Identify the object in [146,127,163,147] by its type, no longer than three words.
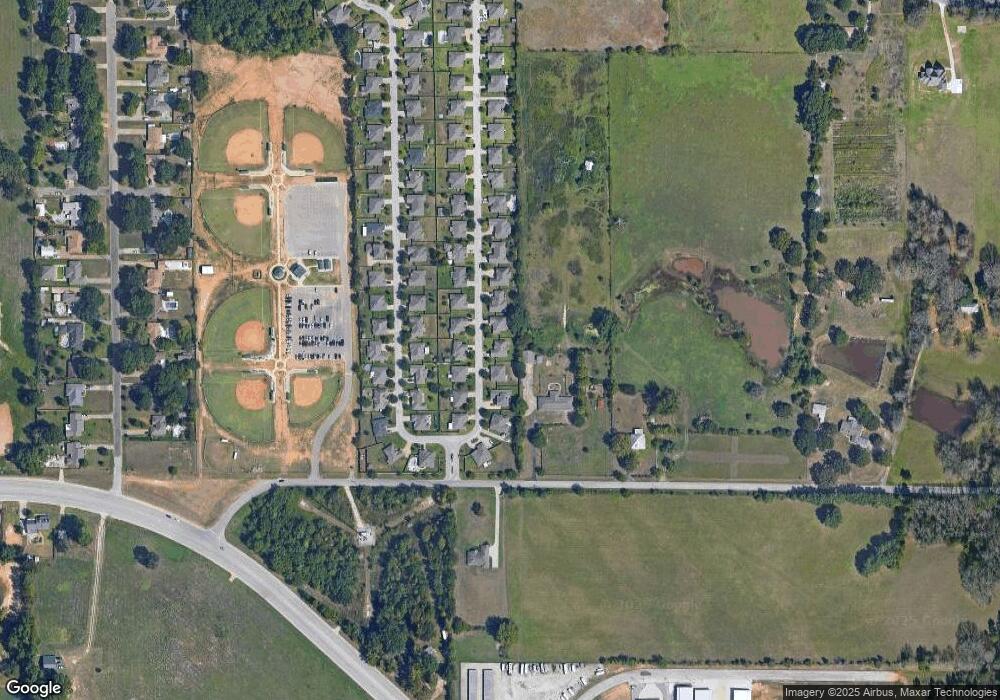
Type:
house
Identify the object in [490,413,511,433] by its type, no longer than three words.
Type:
house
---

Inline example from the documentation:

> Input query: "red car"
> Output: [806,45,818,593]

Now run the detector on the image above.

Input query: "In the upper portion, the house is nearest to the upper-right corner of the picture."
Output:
[918,68,945,90]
